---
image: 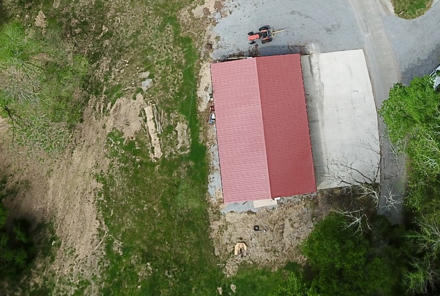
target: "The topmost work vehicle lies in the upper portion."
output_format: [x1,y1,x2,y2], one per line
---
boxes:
[246,25,273,44]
